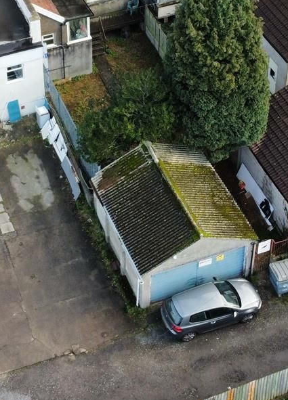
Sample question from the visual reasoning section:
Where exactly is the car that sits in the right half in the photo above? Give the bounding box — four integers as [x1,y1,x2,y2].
[155,272,264,341]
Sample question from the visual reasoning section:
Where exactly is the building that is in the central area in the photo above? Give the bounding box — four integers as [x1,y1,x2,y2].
[85,142,260,309]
